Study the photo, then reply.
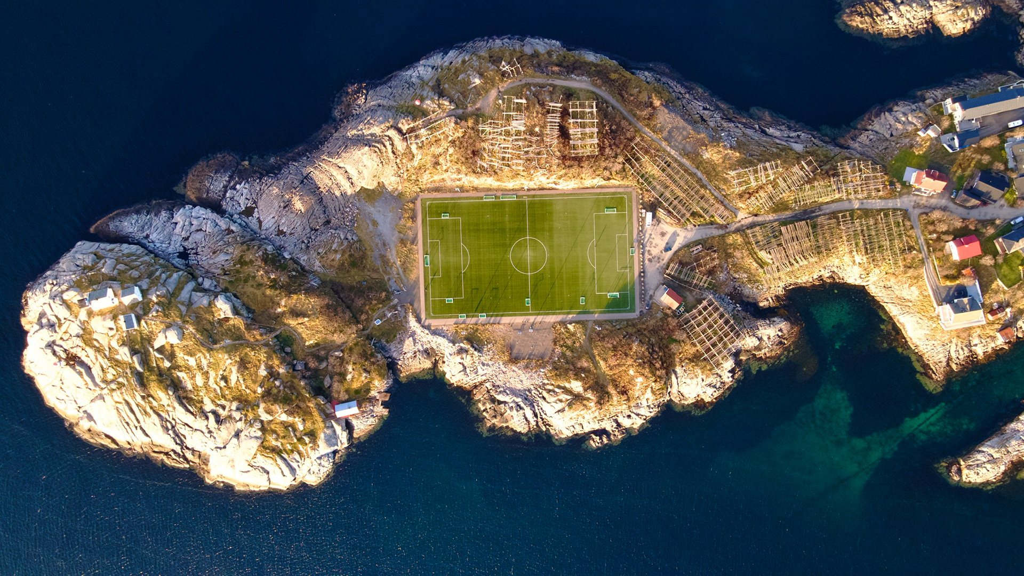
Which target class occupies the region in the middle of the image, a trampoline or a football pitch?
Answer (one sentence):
The feature located in the middle of the image is a football pitch.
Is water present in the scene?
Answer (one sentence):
Yes, the picture does contain water.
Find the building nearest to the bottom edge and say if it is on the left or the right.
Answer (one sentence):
The building nearest to the bottom edge appears in the left half of the scene.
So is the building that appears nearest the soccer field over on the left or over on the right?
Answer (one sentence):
The building that appears nearest the soccer field sits on the right side.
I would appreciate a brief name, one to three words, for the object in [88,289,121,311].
house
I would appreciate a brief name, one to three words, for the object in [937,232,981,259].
house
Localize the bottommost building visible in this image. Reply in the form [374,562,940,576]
[333,398,383,418]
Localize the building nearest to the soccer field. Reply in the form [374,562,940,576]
[659,287,684,311]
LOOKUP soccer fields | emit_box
[421,191,636,319]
